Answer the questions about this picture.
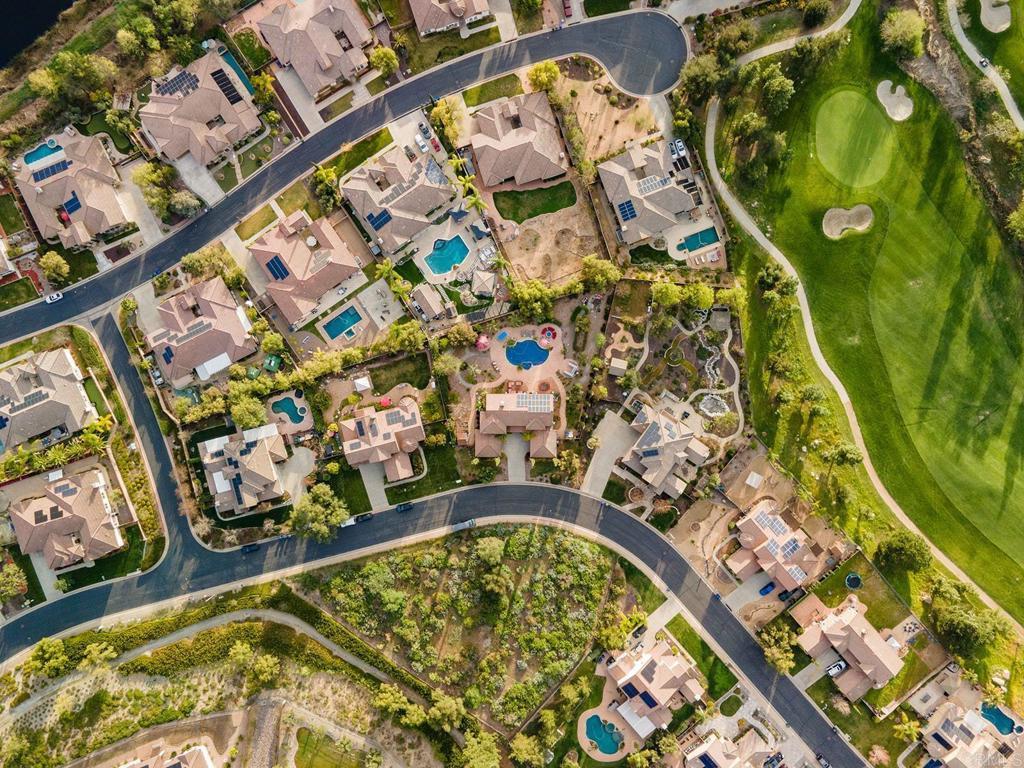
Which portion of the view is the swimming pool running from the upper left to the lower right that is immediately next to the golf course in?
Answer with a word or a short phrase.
bottom right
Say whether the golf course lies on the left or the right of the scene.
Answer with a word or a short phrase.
right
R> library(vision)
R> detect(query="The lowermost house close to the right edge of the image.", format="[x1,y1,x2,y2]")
[916,698,1023,768]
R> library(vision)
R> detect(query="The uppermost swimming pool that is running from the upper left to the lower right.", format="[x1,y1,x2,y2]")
[216,44,253,96]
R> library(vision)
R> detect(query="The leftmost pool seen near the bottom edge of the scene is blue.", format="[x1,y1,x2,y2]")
[584,715,623,757]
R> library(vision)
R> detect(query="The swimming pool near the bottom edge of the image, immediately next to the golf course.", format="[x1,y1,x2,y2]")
[981,702,1024,737]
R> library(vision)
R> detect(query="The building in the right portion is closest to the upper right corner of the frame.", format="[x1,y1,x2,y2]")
[595,140,696,245]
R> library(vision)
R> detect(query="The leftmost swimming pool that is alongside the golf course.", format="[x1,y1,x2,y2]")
[676,225,721,253]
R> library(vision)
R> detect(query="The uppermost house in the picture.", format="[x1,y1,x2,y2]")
[409,0,489,37]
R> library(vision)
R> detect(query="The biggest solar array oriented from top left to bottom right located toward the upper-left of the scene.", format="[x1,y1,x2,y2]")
[211,71,240,103]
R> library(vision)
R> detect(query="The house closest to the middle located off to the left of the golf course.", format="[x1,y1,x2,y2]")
[475,394,557,457]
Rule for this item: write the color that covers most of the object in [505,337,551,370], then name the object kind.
blue swimming pool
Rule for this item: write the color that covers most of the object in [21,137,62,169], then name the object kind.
blue swimming pool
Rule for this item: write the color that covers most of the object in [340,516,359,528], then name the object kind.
white vehicle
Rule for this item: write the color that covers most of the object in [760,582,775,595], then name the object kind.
blue vehicle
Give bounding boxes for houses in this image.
[475,394,557,457]
[198,423,288,514]
[9,469,127,572]
[14,134,133,247]
[247,210,359,324]
[725,500,824,597]
[916,698,1023,768]
[470,92,567,187]
[256,0,374,103]
[595,140,696,245]
[621,404,711,502]
[146,277,258,383]
[412,283,456,320]
[0,348,103,470]
[126,739,218,768]
[794,605,906,704]
[609,358,627,377]
[687,724,775,768]
[409,0,489,37]
[340,138,455,255]
[608,636,706,739]
[340,395,425,479]
[137,52,263,169]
